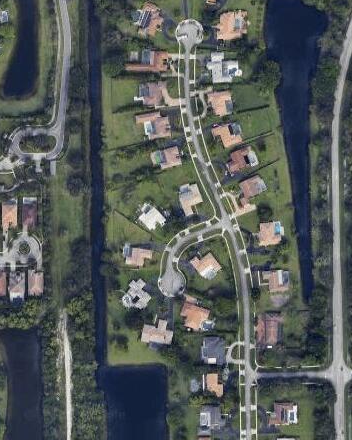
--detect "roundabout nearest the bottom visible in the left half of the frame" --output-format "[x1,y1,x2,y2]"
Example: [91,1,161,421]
[8,233,40,264]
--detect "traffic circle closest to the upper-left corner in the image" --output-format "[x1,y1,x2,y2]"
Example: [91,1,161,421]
[11,126,65,160]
